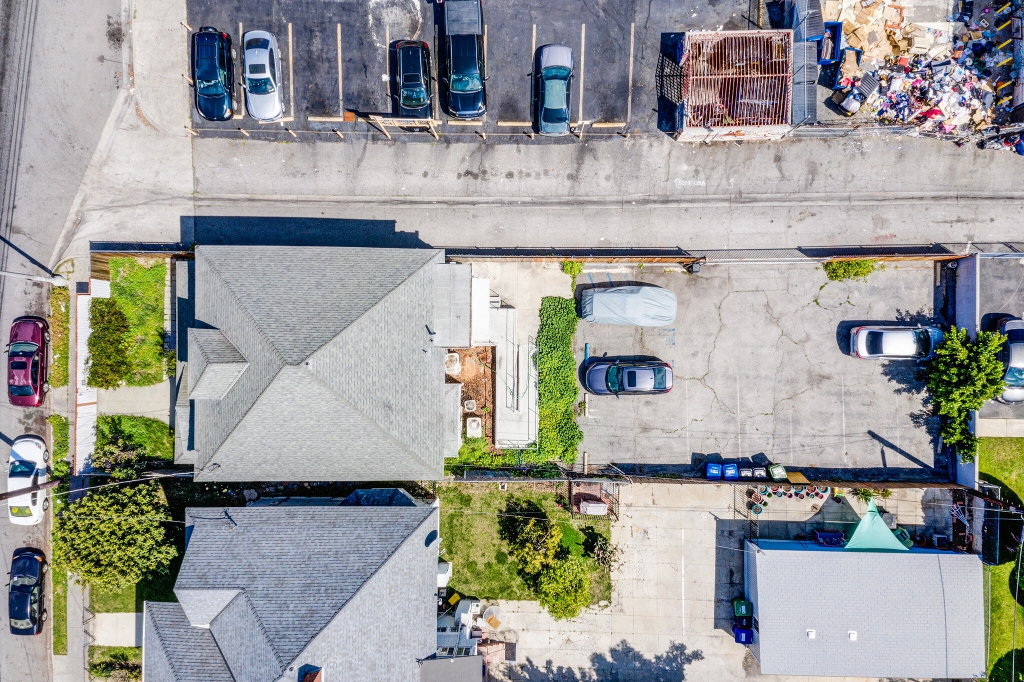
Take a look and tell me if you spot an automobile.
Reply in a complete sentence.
Yes, the image includes an automobile.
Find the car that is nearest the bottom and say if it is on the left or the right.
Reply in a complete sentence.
The car that is nearest the bottom is on the left side of the image.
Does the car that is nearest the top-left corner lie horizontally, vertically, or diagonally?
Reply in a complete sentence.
I'd say the car that is nearest the top-left corner is aligned vertically in the picture.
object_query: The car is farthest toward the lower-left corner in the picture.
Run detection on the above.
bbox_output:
[0,550,48,637]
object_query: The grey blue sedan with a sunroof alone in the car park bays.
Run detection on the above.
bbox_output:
[585,358,675,400]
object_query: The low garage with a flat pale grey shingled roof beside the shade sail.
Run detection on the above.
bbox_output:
[744,540,987,677]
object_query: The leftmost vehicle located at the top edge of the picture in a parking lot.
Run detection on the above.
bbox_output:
[188,23,235,120]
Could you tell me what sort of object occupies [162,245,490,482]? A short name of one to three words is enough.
house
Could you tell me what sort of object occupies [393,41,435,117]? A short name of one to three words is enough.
car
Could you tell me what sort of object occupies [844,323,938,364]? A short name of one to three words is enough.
car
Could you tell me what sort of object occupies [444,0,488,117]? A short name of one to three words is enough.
truck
